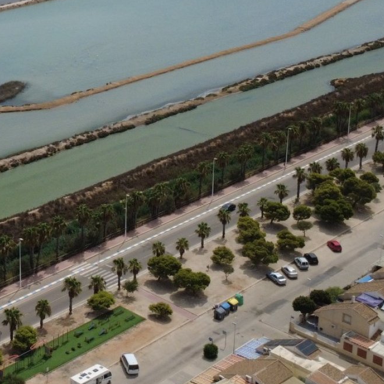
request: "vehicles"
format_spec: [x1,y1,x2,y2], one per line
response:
[69,360,112,384]
[277,265,302,280]
[290,256,314,273]
[300,252,324,267]
[218,203,237,213]
[265,273,290,288]
[120,353,141,375]
[323,241,346,253]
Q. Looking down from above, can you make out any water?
Yes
